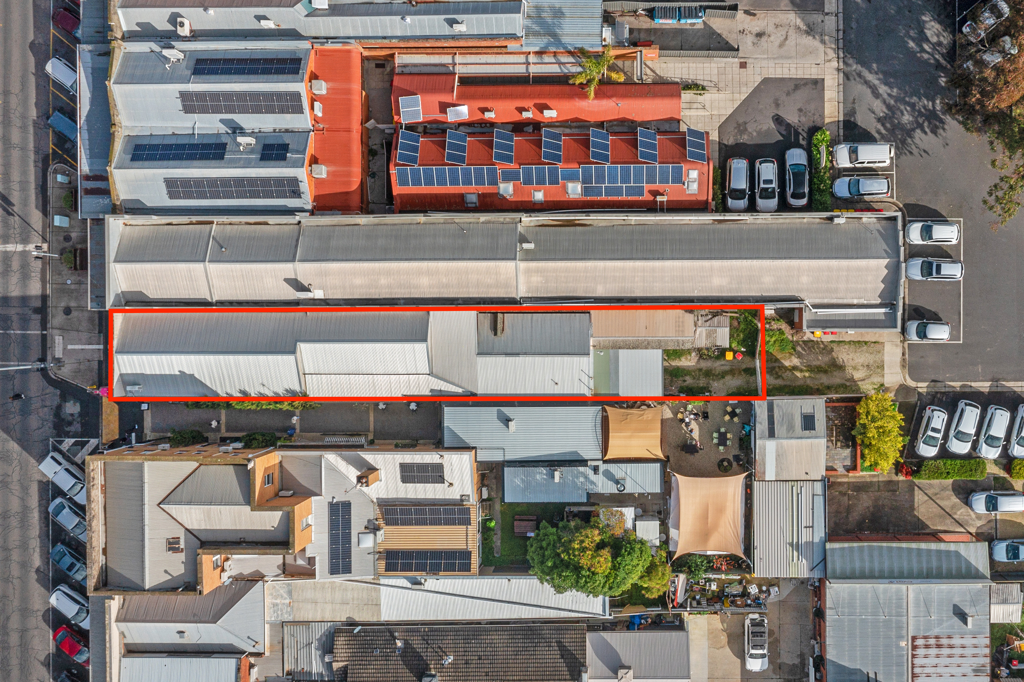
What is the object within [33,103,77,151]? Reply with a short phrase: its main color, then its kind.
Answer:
blue car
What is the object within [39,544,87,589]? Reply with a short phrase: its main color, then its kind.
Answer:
blue car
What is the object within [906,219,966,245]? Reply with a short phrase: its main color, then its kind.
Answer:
white car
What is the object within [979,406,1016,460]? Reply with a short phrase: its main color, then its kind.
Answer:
white car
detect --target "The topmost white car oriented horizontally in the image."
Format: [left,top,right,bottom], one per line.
[835,140,902,168]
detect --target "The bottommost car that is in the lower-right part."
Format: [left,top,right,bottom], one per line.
[745,616,774,677]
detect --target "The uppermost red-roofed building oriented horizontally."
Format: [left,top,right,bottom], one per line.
[393,74,683,132]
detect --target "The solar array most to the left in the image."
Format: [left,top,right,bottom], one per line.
[130,141,227,159]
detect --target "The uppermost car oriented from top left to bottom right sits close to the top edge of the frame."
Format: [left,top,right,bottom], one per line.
[44,2,97,44]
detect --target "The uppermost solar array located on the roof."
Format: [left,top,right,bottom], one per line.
[192,56,301,73]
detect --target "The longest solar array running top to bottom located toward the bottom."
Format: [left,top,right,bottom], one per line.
[328,503,351,576]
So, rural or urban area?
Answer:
urban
